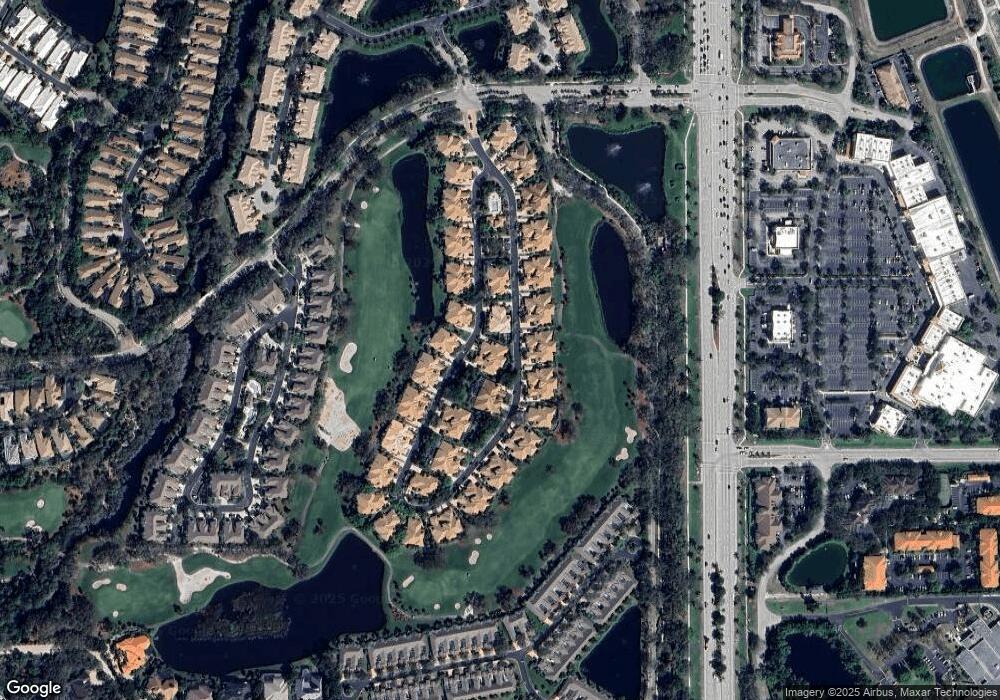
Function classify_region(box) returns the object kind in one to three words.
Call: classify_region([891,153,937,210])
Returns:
building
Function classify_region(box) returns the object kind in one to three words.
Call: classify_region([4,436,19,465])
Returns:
house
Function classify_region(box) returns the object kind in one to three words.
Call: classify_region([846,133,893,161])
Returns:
building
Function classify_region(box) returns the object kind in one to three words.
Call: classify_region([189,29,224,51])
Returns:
house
